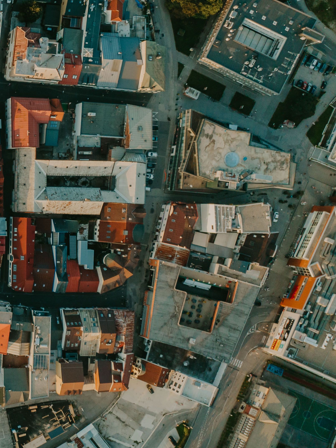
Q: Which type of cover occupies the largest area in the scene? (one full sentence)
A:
The largest share of the image is taken up by buildings.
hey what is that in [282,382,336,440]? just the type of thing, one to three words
sports court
